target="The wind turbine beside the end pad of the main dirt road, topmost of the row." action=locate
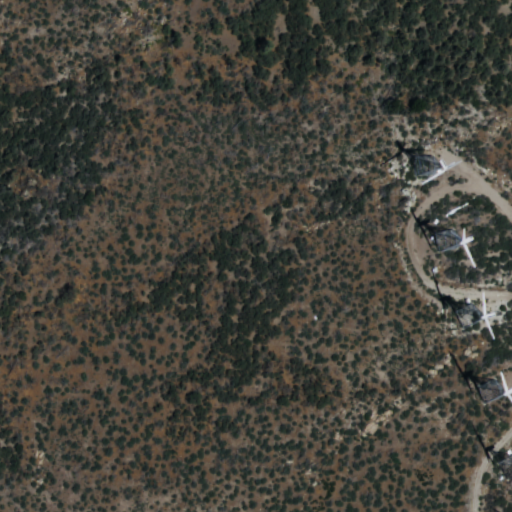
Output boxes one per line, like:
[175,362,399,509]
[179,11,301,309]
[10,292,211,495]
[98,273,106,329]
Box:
[413,154,466,182]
